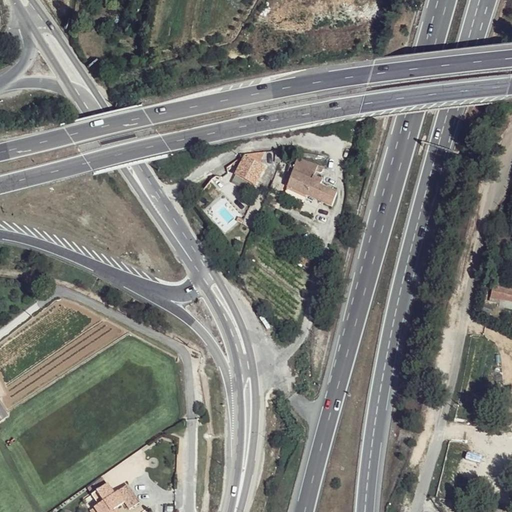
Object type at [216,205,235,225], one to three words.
swimming pool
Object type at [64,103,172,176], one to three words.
overpass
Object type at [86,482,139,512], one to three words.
house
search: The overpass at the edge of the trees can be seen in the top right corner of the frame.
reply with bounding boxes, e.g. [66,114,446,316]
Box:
[358,42,512,119]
